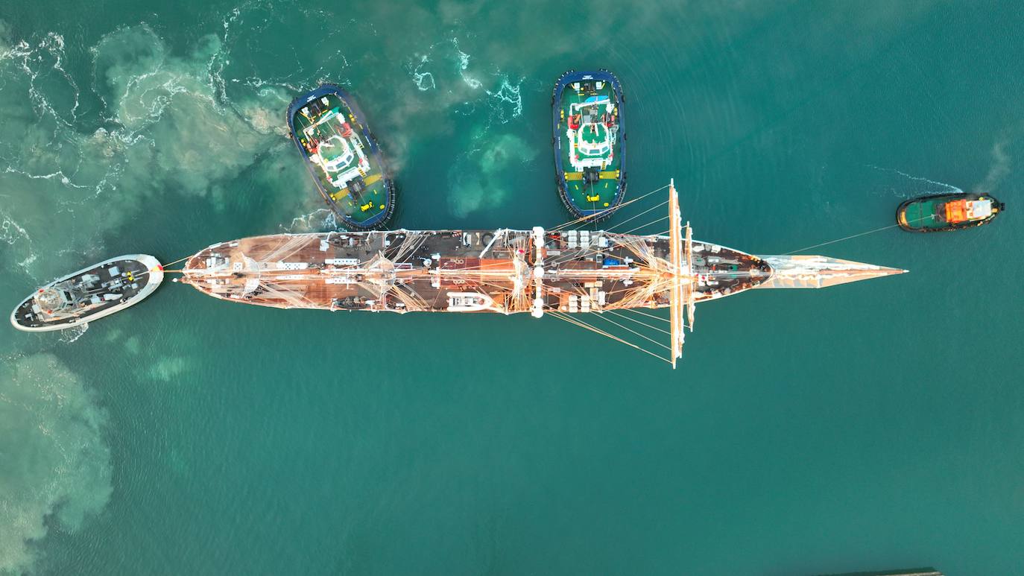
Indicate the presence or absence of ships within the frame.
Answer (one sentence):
Yes, a ship appears in the view.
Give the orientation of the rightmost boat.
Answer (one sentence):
In this picture, the rightmost boat is oriented from side to side.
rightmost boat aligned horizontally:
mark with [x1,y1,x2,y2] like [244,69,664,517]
[894,192,1007,233]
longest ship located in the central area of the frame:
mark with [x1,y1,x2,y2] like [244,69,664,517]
[173,180,908,368]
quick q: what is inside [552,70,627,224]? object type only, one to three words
boat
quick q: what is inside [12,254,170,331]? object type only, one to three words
boat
